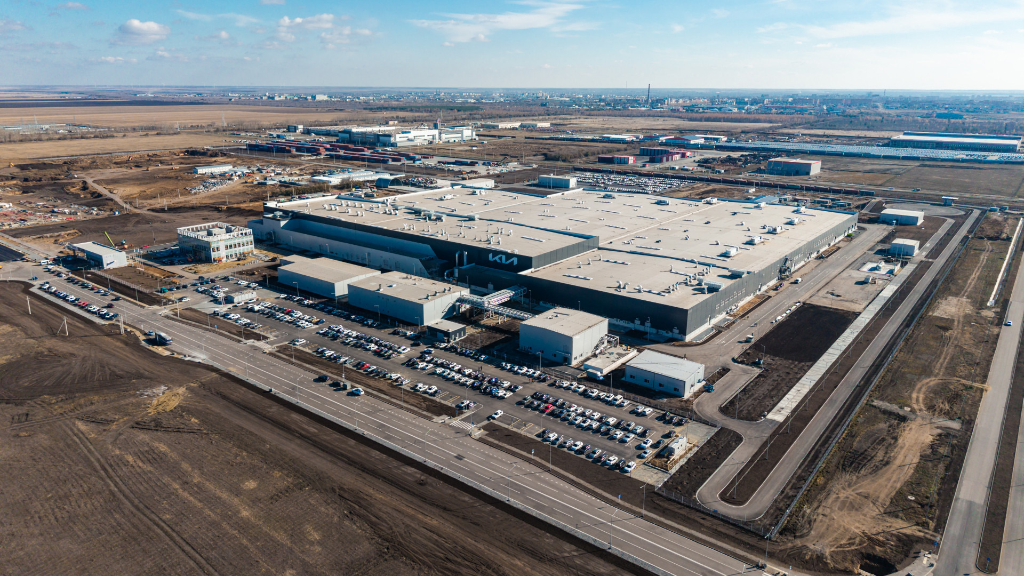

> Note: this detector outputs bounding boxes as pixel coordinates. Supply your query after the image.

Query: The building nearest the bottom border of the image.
[646,432,691,472]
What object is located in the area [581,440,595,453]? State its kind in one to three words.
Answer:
vehicle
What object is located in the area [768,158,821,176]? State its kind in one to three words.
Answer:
building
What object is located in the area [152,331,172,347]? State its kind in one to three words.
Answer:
vehicle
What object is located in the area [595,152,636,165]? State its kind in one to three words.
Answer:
shed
